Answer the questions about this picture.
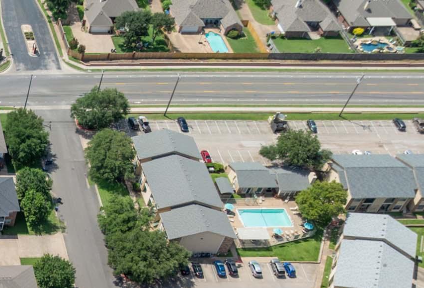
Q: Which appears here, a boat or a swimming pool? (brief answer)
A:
swimming pool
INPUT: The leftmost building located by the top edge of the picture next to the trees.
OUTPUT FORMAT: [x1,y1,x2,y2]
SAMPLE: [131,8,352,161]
[85,0,146,34]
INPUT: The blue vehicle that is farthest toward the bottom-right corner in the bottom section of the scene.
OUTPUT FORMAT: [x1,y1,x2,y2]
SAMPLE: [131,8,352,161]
[283,261,296,279]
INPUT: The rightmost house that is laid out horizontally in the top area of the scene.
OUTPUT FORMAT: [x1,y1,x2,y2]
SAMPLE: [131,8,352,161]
[332,0,416,35]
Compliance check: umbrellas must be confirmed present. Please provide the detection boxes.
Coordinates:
[271,227,283,236]
[303,223,315,230]
[224,203,235,211]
